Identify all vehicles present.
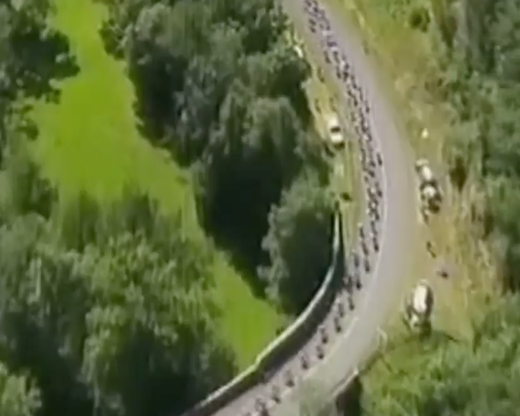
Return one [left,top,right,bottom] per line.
[416,180,446,210]
[324,119,346,142]
[409,283,433,328]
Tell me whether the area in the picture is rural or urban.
rural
